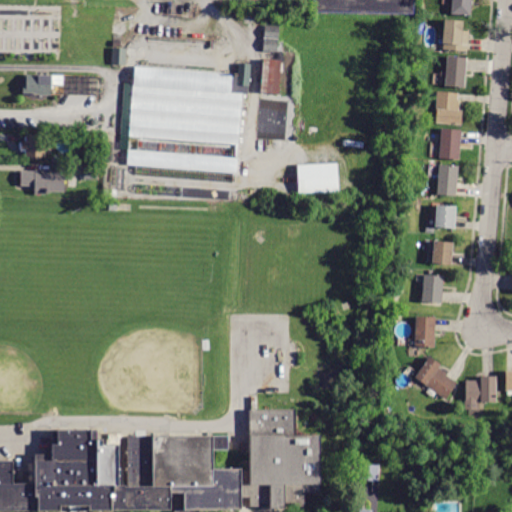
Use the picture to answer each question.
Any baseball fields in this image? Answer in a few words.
Yes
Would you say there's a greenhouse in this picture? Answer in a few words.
Yes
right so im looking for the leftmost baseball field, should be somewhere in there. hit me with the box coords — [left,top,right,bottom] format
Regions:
[0,344,42,416]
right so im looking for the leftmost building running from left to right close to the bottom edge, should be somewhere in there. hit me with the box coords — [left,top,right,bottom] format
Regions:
[34,398,320,512]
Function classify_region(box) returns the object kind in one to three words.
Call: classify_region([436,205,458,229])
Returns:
house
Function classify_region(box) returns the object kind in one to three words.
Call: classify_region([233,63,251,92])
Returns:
shed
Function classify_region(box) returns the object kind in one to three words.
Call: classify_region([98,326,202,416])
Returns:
baseball field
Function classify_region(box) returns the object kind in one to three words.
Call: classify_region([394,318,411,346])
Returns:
swimming pool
